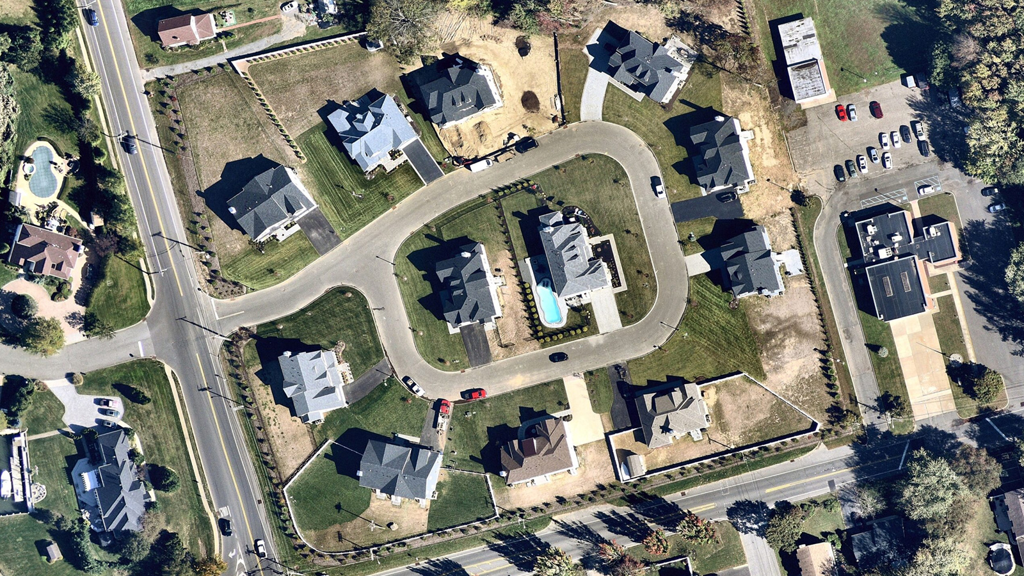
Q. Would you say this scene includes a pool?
Yes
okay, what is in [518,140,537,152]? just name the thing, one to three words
vehicle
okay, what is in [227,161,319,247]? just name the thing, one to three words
house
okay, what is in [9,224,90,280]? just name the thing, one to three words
house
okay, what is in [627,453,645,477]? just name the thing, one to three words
shed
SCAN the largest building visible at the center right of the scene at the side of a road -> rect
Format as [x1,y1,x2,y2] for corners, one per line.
[855,212,960,320]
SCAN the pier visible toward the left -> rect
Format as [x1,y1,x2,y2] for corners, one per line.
[5,439,26,501]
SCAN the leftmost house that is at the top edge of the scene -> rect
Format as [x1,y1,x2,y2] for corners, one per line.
[158,13,216,49]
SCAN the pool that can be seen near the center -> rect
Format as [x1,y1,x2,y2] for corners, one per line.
[535,276,563,325]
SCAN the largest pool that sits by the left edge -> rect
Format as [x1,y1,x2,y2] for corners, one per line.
[28,145,58,199]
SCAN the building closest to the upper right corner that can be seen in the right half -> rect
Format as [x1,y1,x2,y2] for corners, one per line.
[778,17,830,103]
